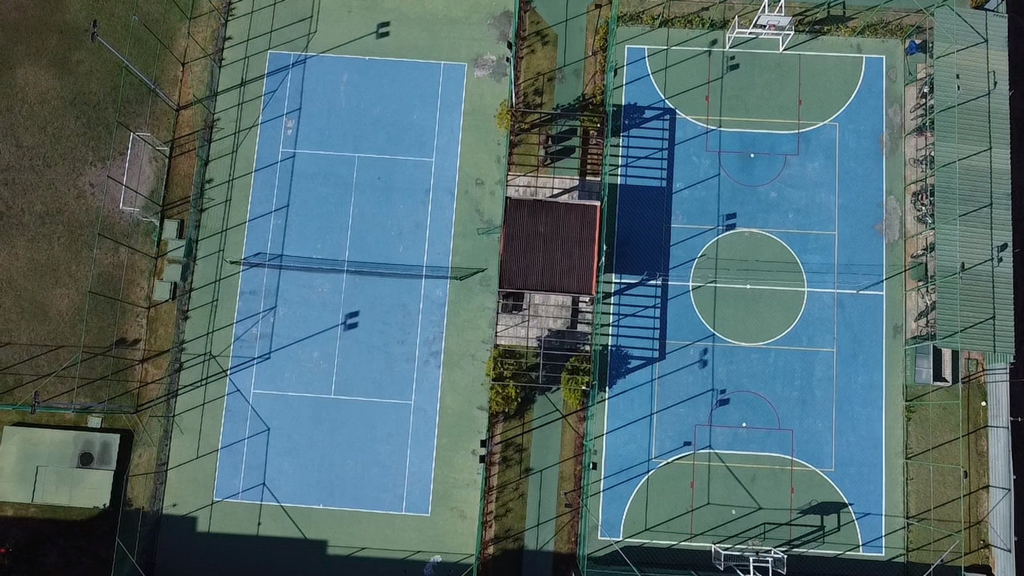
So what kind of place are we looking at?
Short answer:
sports ground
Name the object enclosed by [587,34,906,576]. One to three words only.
sports court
